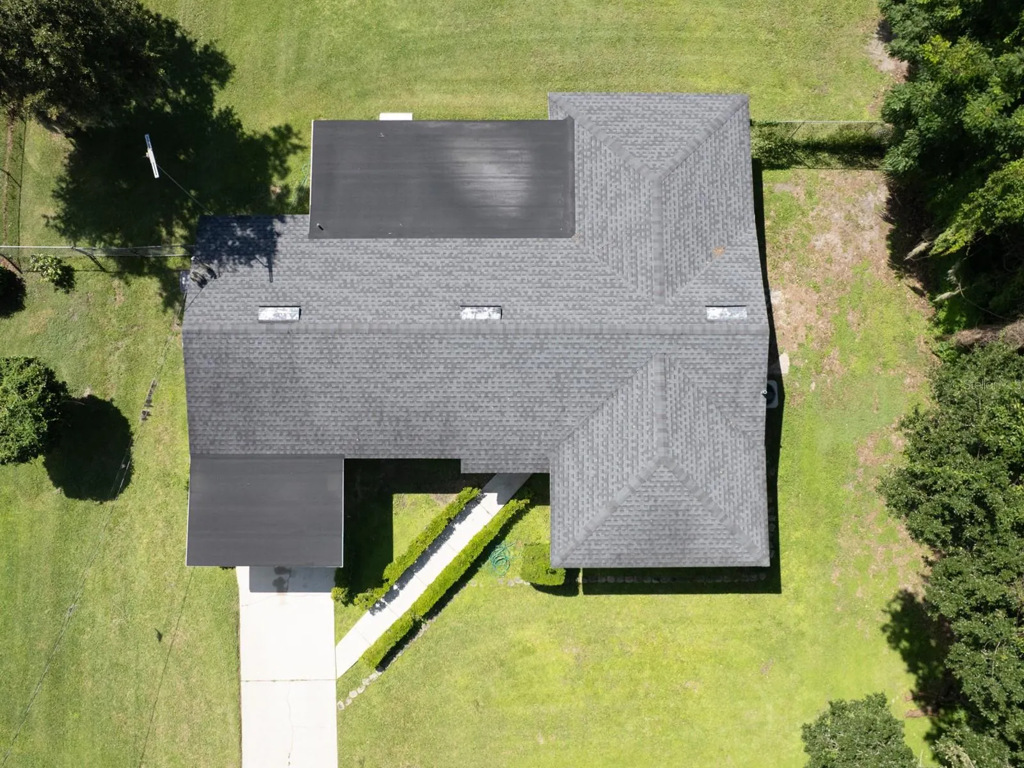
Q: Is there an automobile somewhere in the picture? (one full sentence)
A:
No, the frame has no automobile in it.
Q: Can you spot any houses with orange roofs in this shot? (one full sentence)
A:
No, the scene contains no house with an orange roof.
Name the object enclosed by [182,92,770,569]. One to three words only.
house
